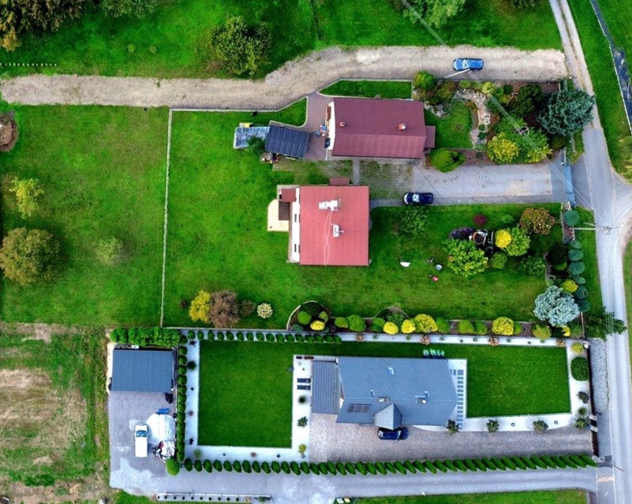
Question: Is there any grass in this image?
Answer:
Yes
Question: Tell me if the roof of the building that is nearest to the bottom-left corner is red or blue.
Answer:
blue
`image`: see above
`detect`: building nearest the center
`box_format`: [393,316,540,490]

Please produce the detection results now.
[278,178,370,266]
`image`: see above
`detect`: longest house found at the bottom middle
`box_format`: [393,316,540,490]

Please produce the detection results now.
[307,356,458,430]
